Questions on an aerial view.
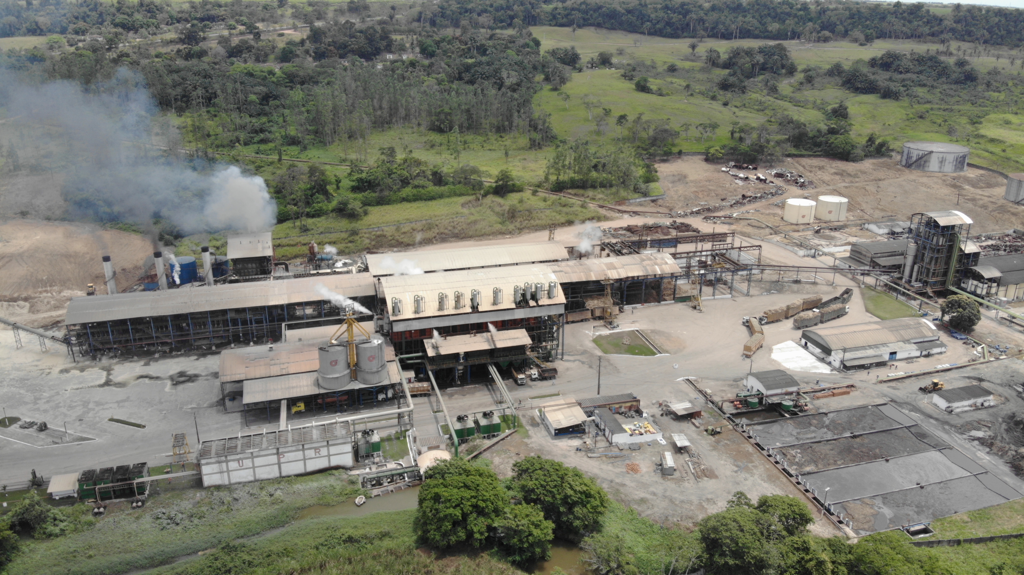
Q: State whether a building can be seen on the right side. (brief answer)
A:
Yes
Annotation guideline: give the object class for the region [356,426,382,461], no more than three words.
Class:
cooling tower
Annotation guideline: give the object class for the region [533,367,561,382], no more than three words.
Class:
vehicle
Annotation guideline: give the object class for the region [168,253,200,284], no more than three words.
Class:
storage tank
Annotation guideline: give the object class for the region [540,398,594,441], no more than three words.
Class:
building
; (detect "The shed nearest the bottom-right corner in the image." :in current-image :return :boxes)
[928,383,996,411]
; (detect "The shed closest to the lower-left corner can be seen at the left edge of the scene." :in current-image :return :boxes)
[42,469,87,504]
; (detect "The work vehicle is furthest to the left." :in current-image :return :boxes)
[81,284,97,297]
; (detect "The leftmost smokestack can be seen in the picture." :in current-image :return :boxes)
[102,255,120,295]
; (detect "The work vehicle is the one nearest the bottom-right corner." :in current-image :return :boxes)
[918,376,937,397]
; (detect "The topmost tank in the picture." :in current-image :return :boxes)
[902,142,971,176]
